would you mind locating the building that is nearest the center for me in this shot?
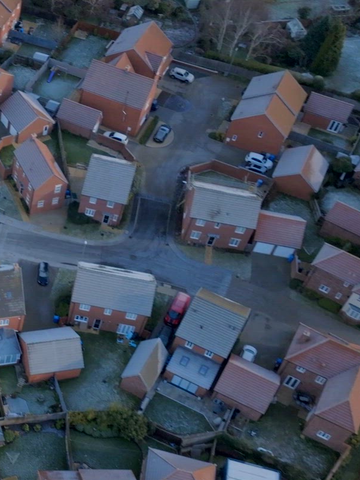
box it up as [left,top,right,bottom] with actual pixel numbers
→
[183,182,261,250]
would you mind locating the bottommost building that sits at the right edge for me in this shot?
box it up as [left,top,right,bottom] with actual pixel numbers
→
[277,322,360,452]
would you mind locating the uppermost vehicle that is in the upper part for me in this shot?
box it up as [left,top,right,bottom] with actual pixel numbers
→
[170,68,195,83]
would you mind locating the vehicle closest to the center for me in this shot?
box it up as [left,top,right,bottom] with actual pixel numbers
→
[170,296,193,322]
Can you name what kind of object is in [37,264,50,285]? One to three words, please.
vehicle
